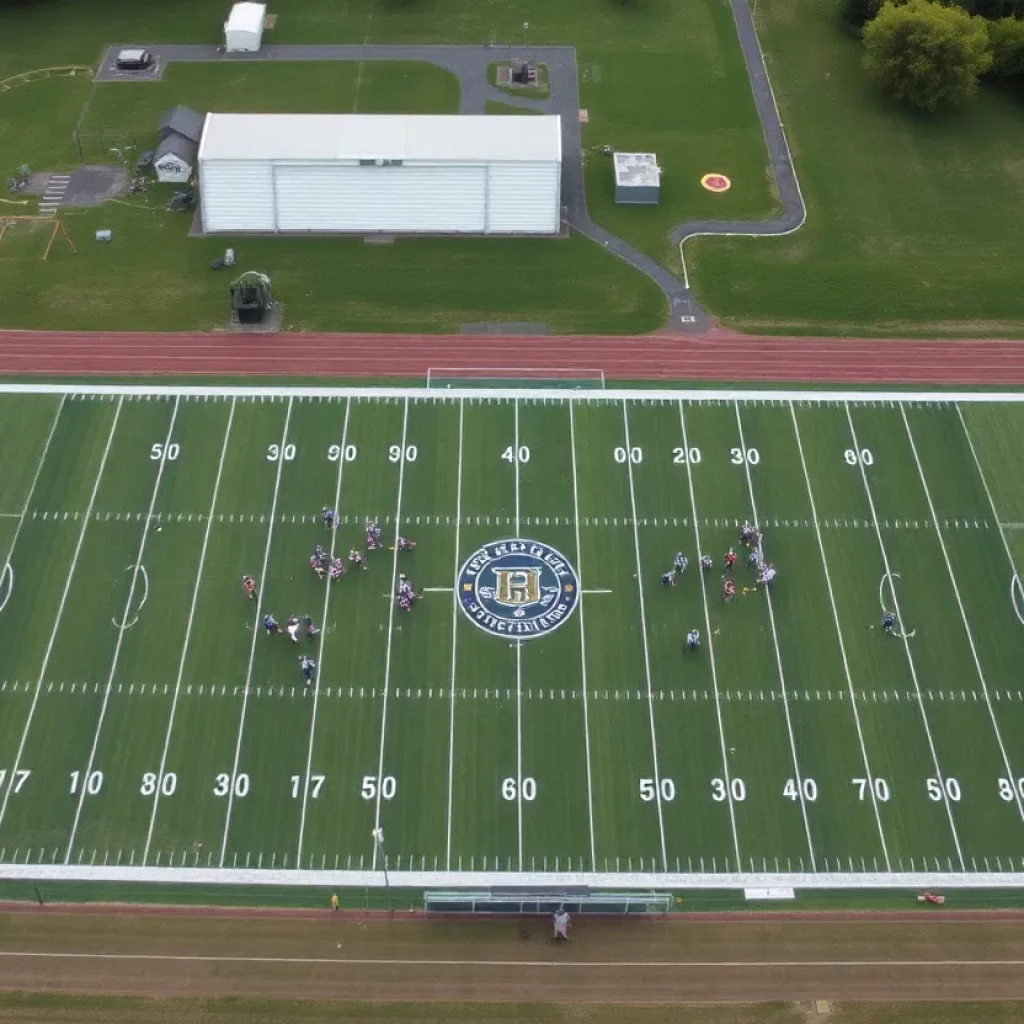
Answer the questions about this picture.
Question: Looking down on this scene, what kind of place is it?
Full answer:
What you see here is a sports ground.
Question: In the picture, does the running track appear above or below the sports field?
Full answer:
As seen from overhead, the running track falls above the sports field in the picture.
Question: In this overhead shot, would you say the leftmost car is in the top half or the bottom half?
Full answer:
The leftmost car is in the top half of the image.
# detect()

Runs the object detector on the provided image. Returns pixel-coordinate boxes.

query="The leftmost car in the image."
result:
[117,50,155,71]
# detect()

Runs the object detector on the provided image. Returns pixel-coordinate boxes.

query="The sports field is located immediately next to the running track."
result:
[0,393,1024,873]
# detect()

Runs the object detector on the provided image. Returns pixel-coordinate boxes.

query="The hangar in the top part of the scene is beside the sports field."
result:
[198,112,566,236]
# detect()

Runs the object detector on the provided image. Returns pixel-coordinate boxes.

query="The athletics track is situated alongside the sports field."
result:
[0,330,1024,383]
